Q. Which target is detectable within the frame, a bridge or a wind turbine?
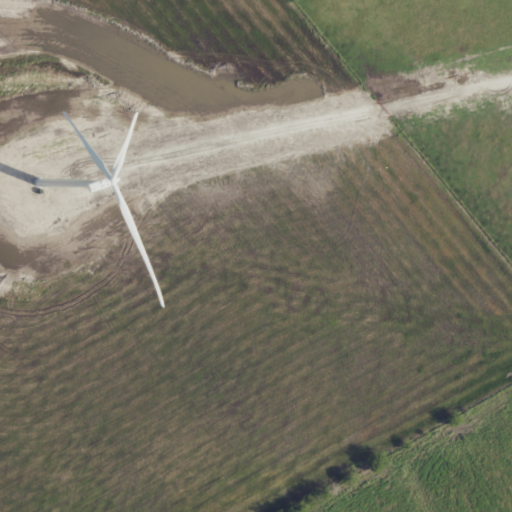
wind turbine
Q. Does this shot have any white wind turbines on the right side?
No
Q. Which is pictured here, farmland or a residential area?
farmland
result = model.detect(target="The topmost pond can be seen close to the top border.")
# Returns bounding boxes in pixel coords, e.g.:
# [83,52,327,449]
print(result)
[15,8,321,112]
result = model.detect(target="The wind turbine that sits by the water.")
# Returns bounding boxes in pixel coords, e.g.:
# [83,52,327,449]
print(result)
[35,112,164,306]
